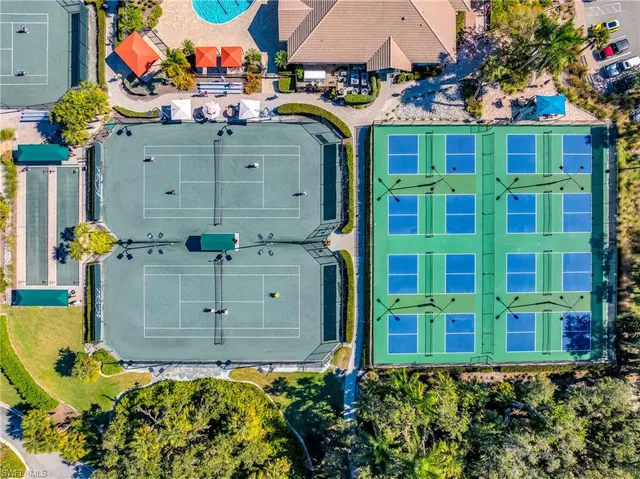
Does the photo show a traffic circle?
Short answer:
No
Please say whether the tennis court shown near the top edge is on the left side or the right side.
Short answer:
left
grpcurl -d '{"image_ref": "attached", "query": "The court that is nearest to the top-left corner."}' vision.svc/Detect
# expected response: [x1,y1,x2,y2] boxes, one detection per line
[0,0,88,108]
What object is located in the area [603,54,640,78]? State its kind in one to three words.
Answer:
car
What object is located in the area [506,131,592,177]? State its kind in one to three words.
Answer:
sports court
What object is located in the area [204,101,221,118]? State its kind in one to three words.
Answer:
umbrella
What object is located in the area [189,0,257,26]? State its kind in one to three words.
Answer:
swimming pool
